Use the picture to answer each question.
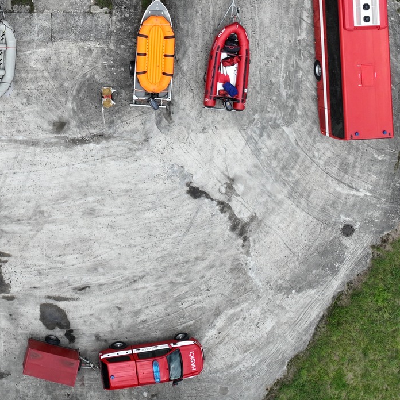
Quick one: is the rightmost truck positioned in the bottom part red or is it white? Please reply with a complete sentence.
In this view, the rightmost truck positioned in the bottom part is red.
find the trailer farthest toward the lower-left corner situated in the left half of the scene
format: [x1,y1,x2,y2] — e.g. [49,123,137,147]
[22,339,97,387]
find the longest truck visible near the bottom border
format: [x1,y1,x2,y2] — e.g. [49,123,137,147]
[93,330,206,389]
